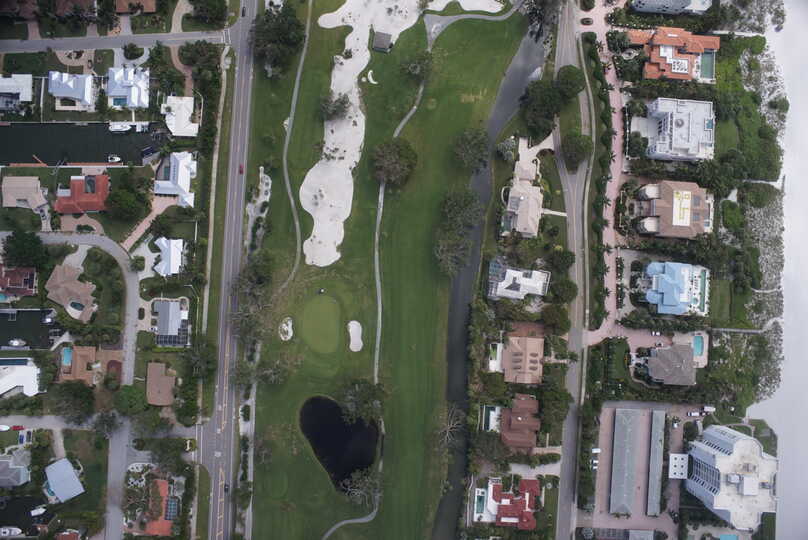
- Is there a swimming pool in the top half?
Yes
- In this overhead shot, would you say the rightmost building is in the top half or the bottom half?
bottom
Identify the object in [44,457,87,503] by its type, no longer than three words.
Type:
house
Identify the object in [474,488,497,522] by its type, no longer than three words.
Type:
swimming pool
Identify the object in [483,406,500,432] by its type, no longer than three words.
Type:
swimming pool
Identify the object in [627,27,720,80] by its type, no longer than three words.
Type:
house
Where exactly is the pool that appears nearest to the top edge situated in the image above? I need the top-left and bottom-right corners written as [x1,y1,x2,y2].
[692,50,716,84]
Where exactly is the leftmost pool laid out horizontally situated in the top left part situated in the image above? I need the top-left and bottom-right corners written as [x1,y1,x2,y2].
[54,96,94,111]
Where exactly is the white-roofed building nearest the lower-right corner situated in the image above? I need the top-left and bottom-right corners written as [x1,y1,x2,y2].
[686,425,779,532]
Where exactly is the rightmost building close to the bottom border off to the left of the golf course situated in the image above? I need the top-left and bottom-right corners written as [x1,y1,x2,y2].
[145,479,174,536]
